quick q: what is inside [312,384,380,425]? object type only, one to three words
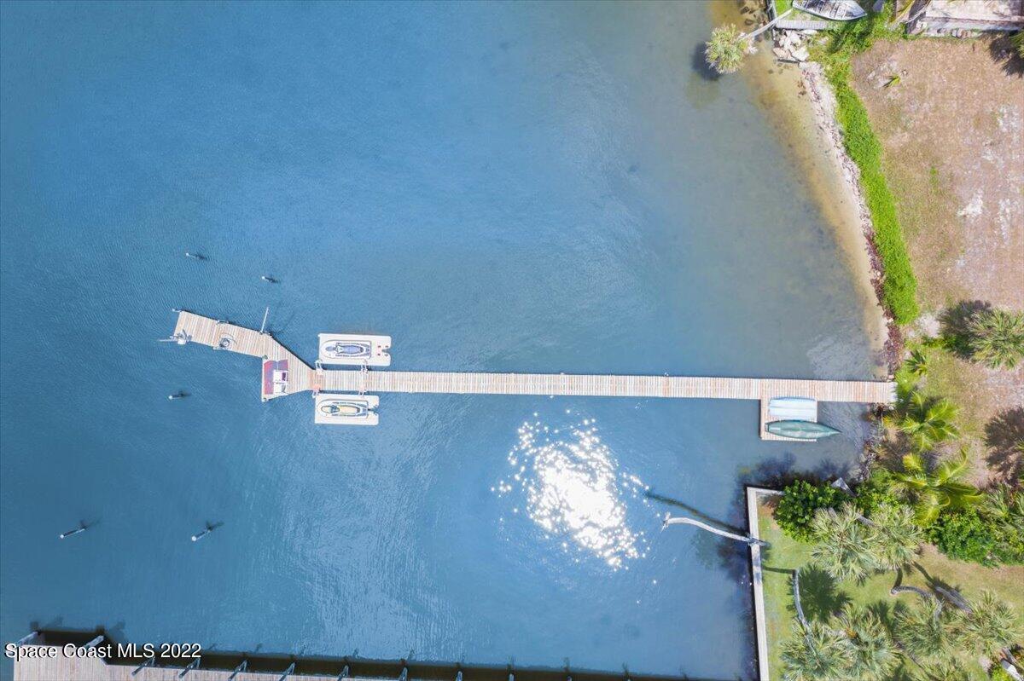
pier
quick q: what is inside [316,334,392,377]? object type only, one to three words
pier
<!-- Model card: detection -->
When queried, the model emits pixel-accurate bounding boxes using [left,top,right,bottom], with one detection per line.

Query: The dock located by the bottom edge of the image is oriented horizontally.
[12,631,736,681]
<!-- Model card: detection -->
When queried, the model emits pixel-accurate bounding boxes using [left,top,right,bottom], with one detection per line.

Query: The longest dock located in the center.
[167,309,896,441]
